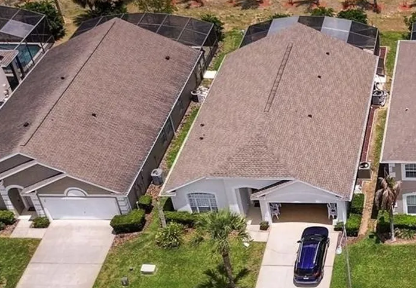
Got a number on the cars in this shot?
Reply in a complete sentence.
Only 1 car is visible.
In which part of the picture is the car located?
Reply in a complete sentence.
The car appears toward the bottom right of the photo.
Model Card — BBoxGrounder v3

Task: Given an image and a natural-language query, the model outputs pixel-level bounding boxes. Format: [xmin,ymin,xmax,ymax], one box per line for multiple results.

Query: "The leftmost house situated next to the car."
[165,22,380,225]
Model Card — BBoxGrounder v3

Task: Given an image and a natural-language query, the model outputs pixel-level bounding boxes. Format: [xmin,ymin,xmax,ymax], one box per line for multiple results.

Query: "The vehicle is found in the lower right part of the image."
[294,225,330,279]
